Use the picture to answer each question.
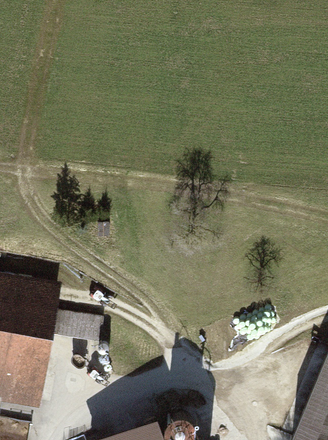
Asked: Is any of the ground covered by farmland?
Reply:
Yes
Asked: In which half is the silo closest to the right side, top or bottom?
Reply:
bottom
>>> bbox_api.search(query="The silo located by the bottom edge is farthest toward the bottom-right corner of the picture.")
[164,415,196,440]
